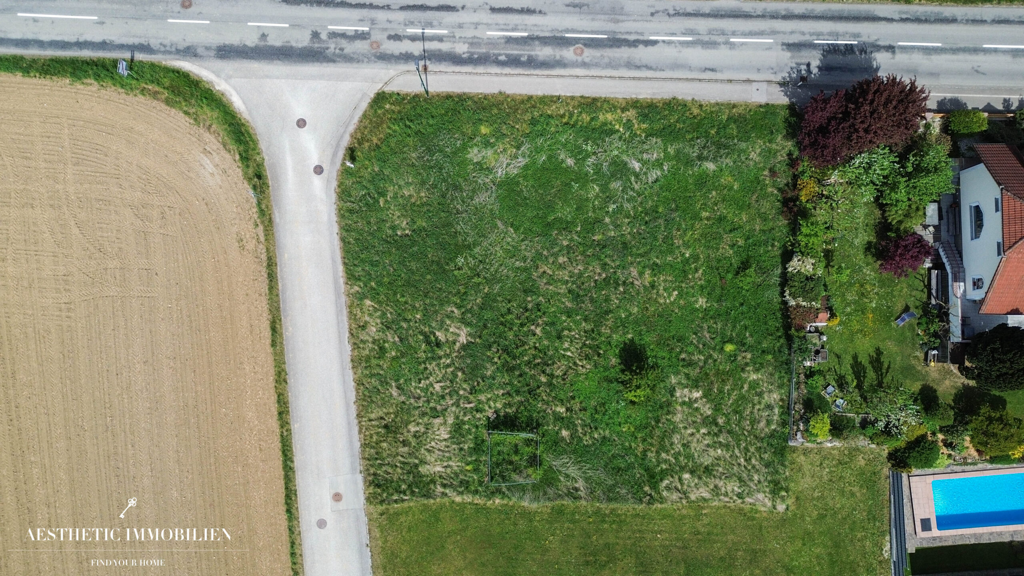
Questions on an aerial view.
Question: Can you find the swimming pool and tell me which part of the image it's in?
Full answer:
You can find the swimming pool in the bottom right area of the picture.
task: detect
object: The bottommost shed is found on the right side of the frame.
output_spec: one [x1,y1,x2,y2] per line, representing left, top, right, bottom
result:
[808,296,830,325]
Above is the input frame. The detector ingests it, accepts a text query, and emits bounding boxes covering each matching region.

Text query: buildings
[808,296,830,325]
[957,139,1024,316]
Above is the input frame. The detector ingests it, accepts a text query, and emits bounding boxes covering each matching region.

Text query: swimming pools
[908,463,1024,541]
